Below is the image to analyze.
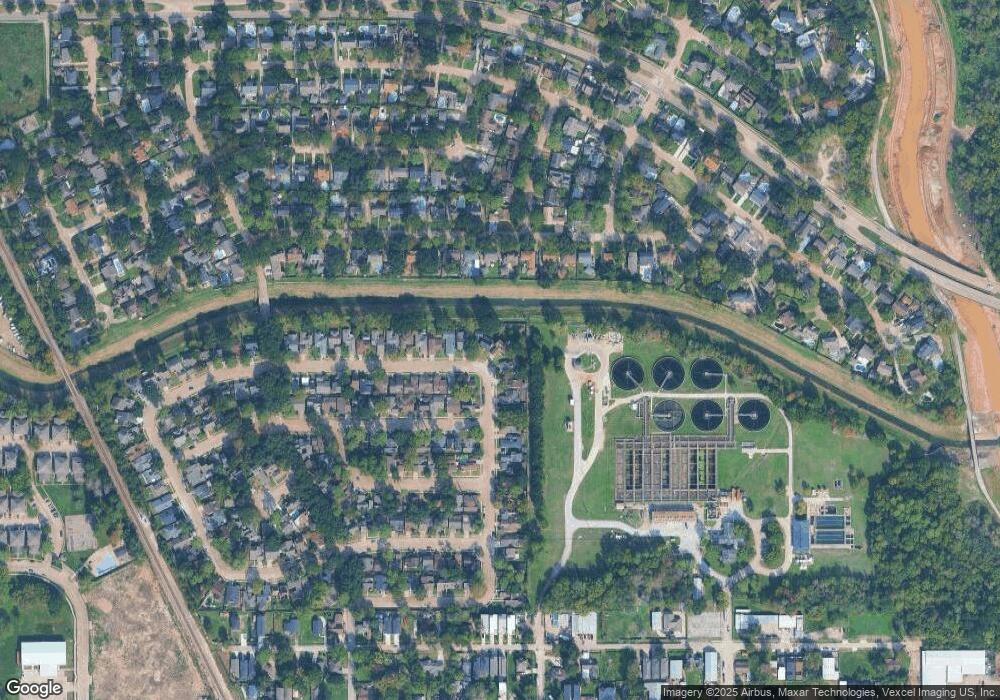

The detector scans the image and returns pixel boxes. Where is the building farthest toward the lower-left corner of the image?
[20,642,66,677]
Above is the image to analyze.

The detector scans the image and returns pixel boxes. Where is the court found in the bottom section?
[65,514,97,552]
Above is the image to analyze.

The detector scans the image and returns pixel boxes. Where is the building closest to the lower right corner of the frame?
[922,650,986,700]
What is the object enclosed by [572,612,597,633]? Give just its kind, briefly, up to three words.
building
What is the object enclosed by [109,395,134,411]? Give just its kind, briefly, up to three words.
house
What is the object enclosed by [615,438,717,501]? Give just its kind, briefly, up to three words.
water tank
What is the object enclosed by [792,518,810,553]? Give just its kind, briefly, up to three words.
building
